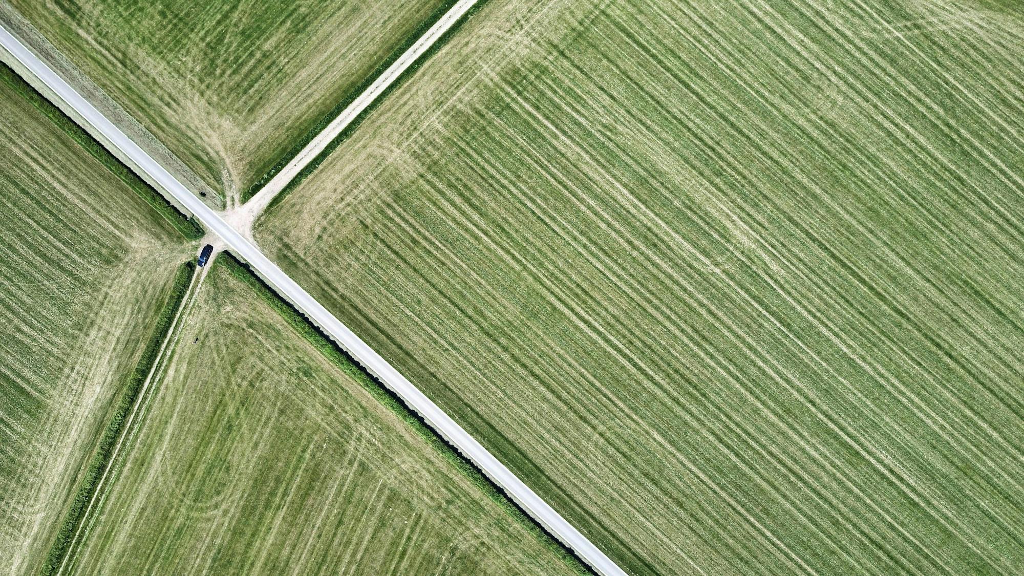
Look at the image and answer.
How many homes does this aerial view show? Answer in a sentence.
The count of homes is 0.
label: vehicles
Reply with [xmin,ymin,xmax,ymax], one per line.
[198,245,213,267]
